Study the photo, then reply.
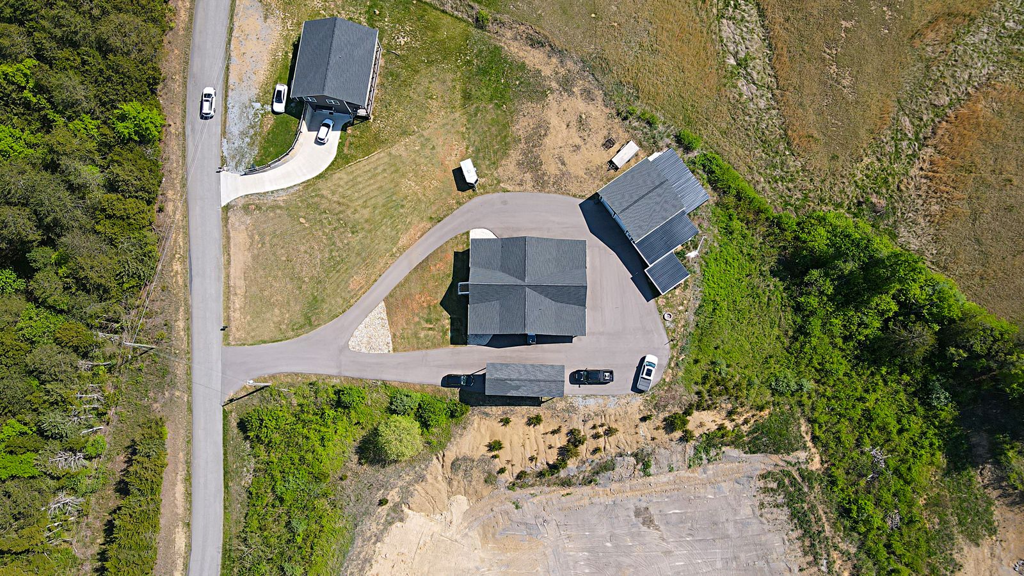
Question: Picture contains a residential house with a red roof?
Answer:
No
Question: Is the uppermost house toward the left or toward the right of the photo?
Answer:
left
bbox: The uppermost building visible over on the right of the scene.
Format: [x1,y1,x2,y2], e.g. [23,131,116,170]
[597,148,709,266]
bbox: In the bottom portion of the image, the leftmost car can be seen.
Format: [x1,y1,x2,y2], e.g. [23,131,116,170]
[443,374,473,388]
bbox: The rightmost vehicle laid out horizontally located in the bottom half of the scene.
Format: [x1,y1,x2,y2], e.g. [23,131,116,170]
[573,369,613,384]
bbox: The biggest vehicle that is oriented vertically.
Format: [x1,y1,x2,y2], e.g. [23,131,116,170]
[636,354,657,394]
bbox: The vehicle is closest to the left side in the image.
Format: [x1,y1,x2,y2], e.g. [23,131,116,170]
[200,90,216,117]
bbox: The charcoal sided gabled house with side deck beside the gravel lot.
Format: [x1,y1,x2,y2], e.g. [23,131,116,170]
[291,17,386,134]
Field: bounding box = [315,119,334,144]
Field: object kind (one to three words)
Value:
car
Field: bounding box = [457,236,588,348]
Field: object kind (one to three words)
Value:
house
